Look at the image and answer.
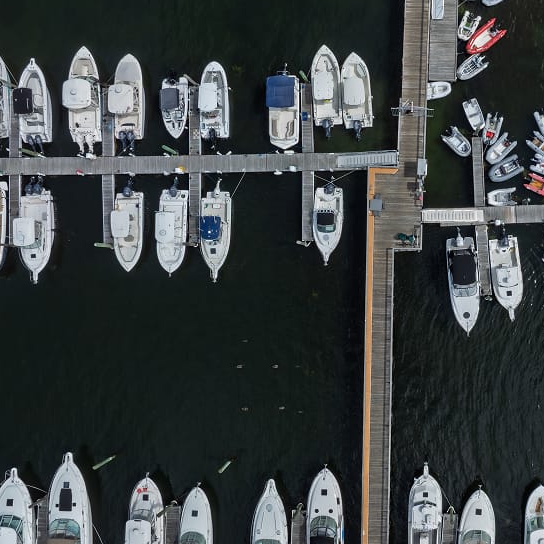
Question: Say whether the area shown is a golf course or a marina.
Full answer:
The picture captures a marina.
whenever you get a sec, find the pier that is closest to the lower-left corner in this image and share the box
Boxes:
[36,496,51,544]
